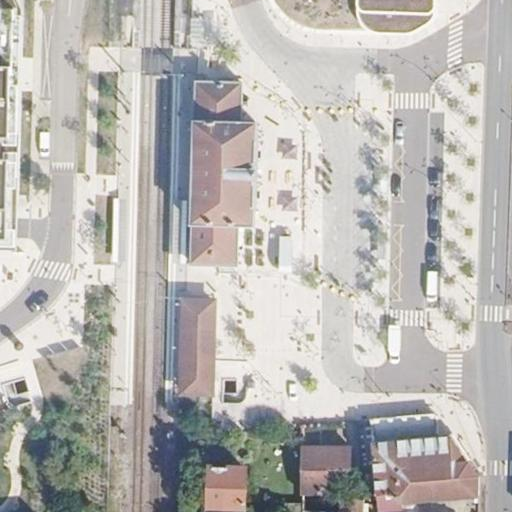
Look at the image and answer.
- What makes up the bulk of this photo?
paved ground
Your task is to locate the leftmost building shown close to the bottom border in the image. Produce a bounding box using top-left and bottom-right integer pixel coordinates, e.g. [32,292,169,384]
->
[204,463,247,512]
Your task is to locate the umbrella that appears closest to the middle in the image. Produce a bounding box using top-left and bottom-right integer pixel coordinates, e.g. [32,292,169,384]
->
[284,199,296,212]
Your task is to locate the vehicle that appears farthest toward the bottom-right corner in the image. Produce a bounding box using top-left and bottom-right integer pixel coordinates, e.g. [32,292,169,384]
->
[387,325,401,364]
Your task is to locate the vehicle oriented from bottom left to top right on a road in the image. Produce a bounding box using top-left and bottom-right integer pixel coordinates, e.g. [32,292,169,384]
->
[26,289,47,308]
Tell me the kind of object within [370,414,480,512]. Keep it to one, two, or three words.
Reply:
building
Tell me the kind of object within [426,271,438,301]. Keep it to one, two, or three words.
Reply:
vehicle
